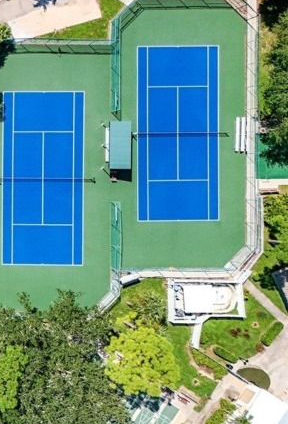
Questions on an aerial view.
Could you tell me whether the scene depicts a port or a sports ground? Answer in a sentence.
This looks like a sports ground.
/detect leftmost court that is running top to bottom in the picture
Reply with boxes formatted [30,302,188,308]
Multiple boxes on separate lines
[0,43,112,340]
